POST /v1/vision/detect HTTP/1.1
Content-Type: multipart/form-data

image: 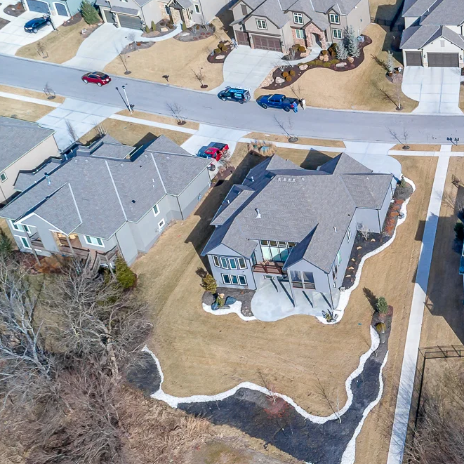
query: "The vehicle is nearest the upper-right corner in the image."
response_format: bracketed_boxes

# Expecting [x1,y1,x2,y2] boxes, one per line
[254,90,298,109]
